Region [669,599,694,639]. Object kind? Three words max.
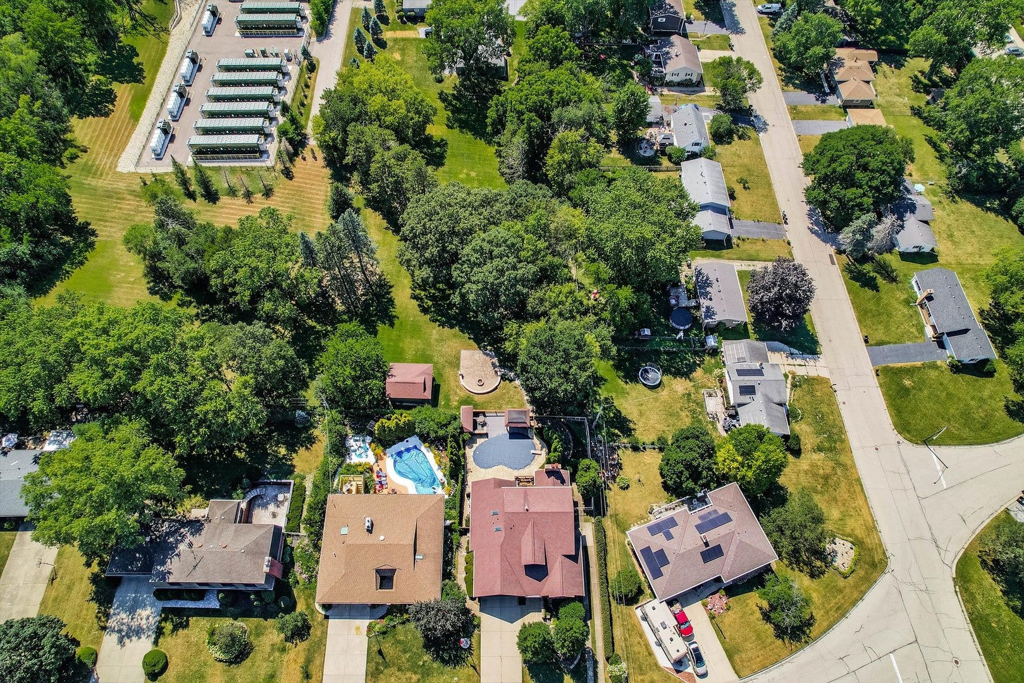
truck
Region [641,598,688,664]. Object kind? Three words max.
vehicle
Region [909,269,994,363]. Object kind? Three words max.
house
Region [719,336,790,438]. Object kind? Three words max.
house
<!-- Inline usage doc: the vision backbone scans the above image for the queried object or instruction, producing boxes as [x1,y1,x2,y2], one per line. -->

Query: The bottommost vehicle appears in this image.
[686,641,706,676]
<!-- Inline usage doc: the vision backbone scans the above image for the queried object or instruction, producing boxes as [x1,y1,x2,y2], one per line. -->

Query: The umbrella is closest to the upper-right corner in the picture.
[912,182,927,194]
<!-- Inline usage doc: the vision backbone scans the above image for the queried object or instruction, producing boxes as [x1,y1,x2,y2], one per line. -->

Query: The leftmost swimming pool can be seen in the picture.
[385,436,447,494]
